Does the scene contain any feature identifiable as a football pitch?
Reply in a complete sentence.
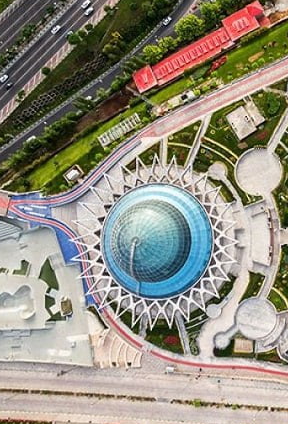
No, no football pitch is visible in the view.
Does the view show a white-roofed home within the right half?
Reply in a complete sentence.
Yes, the scene does show a white-roofed home within the right half.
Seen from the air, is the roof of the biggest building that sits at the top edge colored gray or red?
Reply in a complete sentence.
In this view, the roof of the biggest building that sits at the top edge is red.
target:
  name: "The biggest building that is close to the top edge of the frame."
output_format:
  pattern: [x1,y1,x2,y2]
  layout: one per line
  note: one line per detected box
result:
[137,2,273,95]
